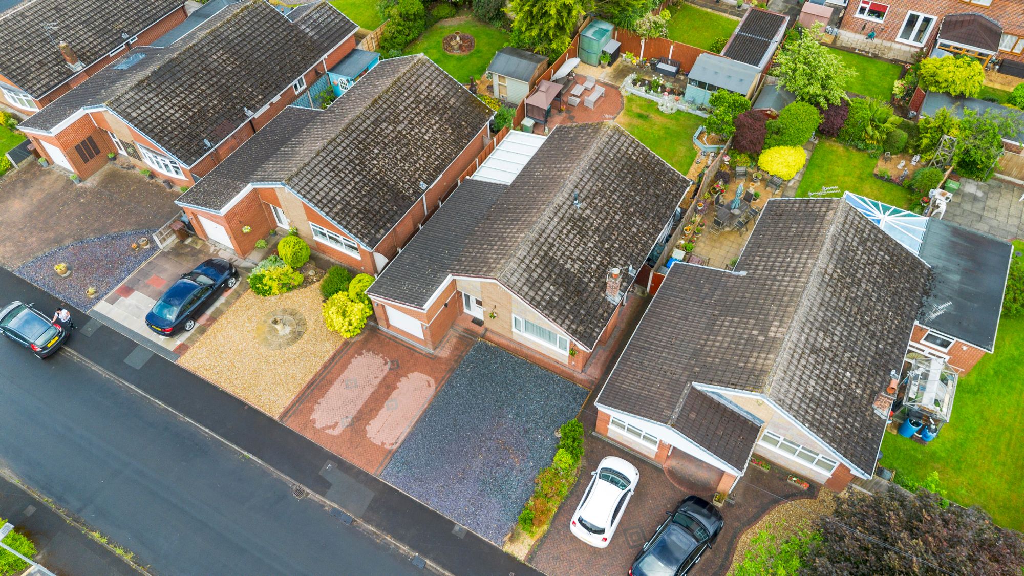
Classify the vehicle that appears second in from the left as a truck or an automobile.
automobile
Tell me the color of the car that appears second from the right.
white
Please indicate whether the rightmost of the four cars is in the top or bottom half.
bottom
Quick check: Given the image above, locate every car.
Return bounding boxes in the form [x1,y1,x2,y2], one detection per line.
[569,453,640,554]
[144,255,240,338]
[0,298,68,360]
[622,491,721,576]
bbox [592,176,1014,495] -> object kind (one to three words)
house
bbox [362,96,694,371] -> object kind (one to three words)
house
